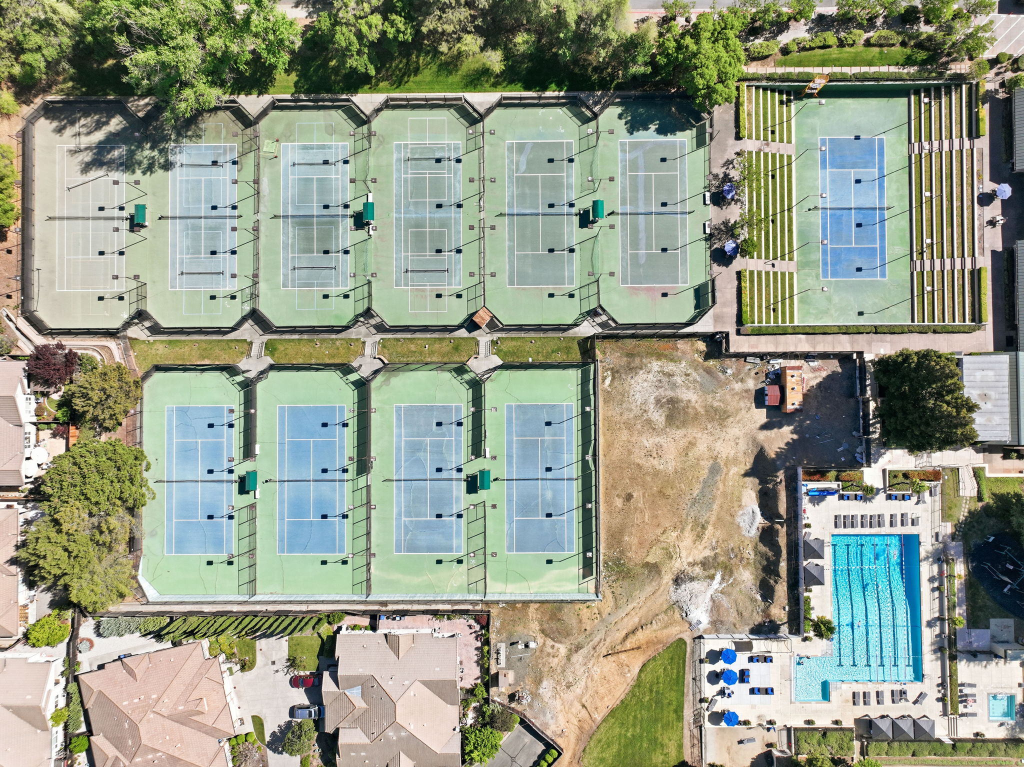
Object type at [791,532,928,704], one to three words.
swimming pool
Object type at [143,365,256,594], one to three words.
tennis court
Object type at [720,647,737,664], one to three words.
umbrella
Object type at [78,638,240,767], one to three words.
house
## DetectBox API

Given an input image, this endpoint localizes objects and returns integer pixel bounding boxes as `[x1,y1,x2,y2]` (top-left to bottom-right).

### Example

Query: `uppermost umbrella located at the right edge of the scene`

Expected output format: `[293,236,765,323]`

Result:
[991,183,1011,199]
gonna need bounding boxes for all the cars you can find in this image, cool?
[292,705,323,722]
[290,676,320,692]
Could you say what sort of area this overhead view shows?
sports ground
